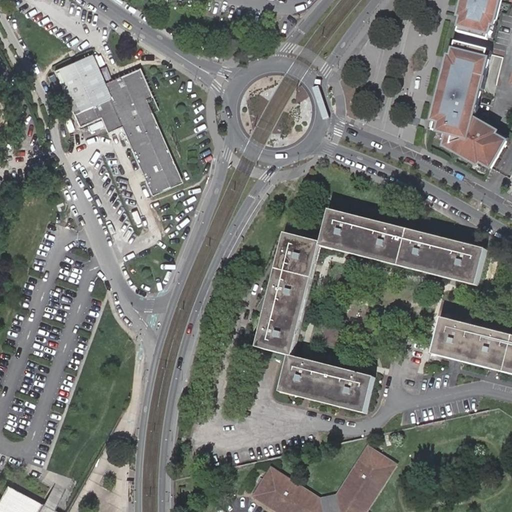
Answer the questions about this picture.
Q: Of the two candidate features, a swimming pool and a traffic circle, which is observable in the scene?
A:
traffic circle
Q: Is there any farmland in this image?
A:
No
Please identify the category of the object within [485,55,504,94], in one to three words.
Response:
building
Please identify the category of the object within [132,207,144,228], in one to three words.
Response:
vehicle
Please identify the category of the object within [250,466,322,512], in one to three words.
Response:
house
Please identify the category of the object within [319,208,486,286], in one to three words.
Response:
building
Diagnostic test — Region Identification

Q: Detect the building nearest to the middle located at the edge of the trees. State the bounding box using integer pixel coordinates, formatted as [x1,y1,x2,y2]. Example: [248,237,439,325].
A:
[254,232,322,356]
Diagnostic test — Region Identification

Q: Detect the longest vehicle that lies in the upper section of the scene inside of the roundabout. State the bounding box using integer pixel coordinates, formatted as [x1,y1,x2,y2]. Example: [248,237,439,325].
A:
[313,82,330,118]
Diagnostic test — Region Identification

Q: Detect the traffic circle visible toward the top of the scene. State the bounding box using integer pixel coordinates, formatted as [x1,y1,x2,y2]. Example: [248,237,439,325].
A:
[223,58,332,166]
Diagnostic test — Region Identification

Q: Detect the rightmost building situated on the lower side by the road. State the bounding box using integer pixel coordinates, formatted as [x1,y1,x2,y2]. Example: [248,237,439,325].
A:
[430,316,512,374]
